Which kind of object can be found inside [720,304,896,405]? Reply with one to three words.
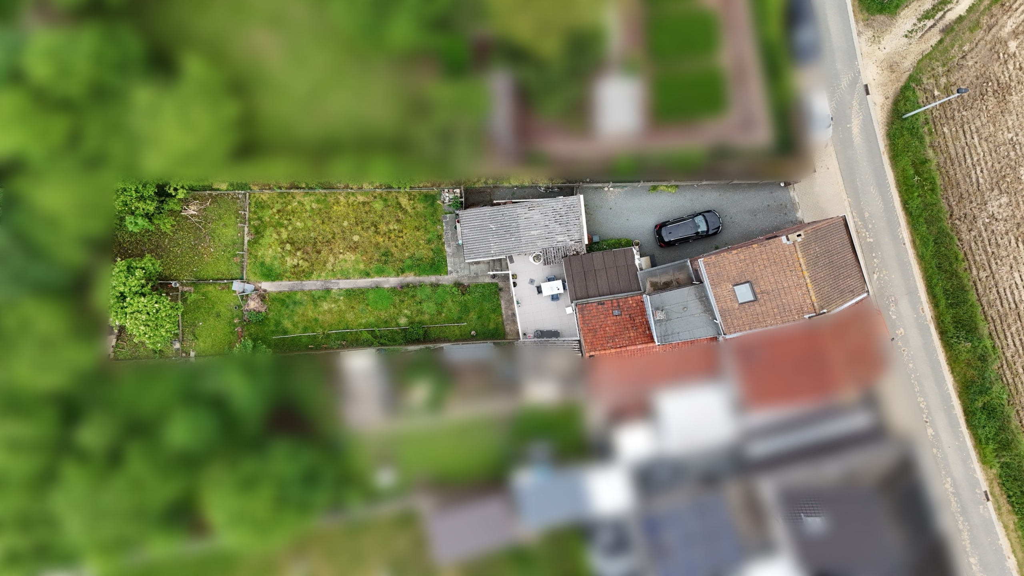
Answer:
house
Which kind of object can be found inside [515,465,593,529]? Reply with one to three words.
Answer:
building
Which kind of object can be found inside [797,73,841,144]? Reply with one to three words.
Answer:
van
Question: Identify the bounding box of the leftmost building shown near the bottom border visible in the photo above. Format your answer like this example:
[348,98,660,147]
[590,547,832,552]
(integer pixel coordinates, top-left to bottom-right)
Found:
[428,482,518,562]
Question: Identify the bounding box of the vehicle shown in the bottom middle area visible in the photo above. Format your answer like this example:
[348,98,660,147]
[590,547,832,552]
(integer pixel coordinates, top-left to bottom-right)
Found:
[591,517,634,576]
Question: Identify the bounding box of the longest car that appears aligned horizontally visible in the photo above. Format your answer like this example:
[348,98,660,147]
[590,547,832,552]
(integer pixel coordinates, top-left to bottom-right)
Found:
[652,210,722,248]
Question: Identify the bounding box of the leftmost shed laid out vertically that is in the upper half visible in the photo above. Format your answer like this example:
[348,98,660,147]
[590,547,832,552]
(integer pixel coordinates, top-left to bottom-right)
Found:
[493,71,514,169]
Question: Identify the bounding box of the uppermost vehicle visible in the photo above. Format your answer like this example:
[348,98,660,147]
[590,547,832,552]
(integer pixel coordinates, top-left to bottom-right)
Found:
[787,0,828,66]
